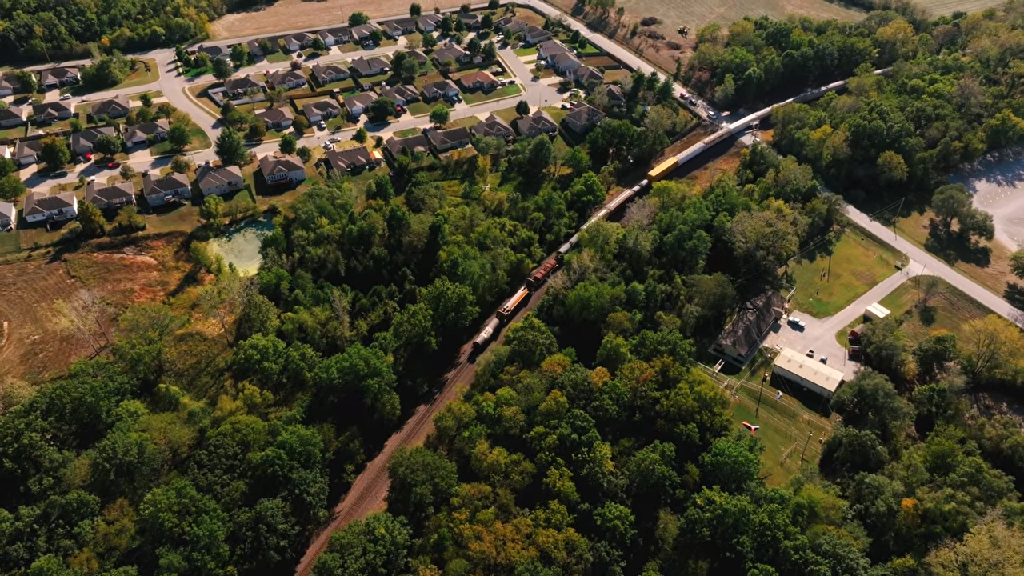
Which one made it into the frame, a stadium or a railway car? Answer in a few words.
railway car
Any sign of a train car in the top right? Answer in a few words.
Yes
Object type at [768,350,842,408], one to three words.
shed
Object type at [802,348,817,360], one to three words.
vehicle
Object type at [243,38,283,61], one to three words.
house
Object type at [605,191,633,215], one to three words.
rail car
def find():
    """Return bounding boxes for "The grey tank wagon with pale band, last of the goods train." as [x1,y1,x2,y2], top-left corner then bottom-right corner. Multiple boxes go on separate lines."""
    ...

[474,311,505,348]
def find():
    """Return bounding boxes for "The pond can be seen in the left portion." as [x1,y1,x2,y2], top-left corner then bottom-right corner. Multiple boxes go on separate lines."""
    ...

[210,218,276,275]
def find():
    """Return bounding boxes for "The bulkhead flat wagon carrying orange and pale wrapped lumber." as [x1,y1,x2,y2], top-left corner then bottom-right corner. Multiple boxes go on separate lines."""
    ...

[501,281,534,317]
